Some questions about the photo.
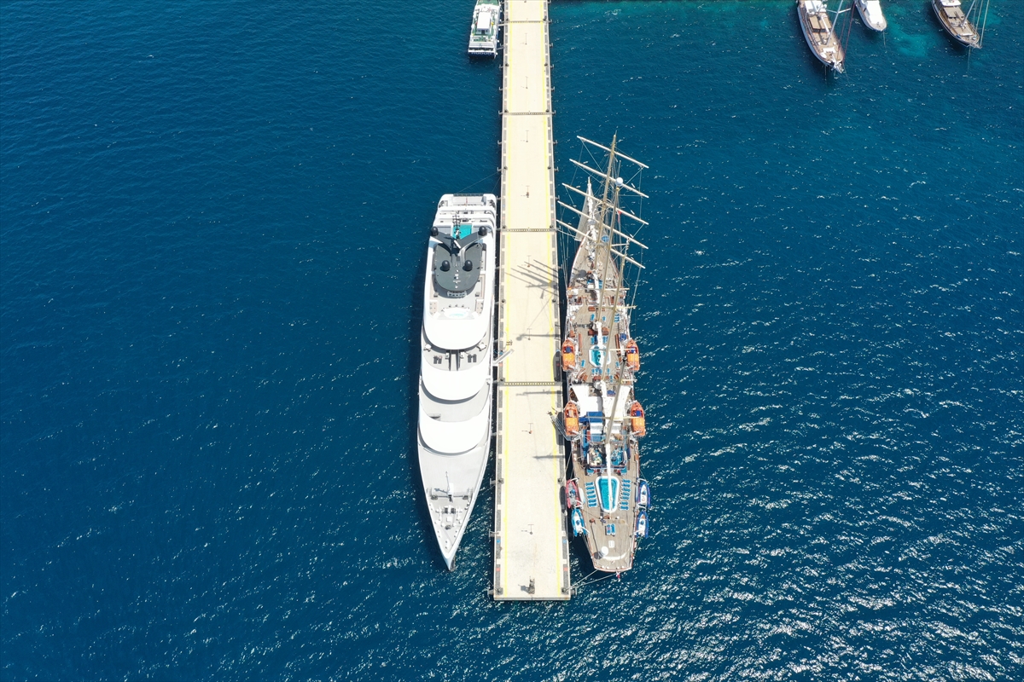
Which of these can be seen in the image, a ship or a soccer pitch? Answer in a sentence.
I can see a ship in this picture.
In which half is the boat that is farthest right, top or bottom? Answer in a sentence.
The top half of the photo is where the boat that is farthest right is.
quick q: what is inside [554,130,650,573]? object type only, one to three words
ship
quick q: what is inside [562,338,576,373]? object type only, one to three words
boat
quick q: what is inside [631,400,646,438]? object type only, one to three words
boat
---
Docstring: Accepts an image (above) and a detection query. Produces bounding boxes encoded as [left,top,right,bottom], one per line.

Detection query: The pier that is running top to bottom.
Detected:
[494,0,570,600]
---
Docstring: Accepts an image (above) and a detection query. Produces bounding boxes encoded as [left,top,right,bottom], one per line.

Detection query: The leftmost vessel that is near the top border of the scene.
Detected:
[469,0,499,61]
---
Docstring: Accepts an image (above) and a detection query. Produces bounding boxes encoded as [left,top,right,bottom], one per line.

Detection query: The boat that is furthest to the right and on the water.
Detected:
[926,0,996,61]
